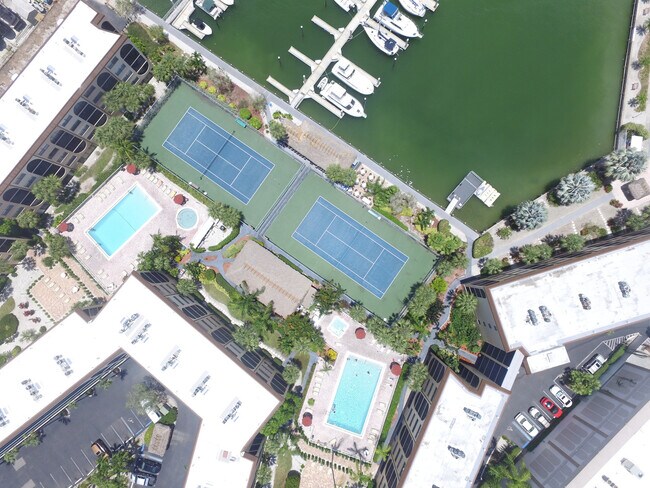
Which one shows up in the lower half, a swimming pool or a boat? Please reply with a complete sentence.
Looking in the lower half, you will find a swimming pool.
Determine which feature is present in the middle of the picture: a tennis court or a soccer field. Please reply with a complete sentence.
The one visible in the middle of the picture is a tennis court.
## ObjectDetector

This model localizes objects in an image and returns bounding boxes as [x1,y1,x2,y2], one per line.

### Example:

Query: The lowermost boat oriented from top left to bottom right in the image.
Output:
[317,84,368,118]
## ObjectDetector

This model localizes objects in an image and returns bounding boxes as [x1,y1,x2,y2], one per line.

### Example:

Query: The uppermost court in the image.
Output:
[136,83,303,229]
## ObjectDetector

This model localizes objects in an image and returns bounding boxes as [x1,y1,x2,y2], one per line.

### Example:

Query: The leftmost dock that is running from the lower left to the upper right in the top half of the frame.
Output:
[172,0,198,30]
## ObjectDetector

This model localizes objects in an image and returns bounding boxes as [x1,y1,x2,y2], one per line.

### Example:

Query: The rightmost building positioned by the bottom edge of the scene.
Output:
[501,334,650,488]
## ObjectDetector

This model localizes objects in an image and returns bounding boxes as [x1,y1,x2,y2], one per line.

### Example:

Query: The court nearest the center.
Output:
[265,170,436,324]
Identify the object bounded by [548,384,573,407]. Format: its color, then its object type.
white car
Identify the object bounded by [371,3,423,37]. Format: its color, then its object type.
white boat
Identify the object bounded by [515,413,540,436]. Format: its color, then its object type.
white car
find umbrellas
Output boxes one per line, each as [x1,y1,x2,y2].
[126,163,138,175]
[59,221,72,233]
[354,327,366,339]
[175,194,186,205]
[389,362,402,374]
[301,412,313,425]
